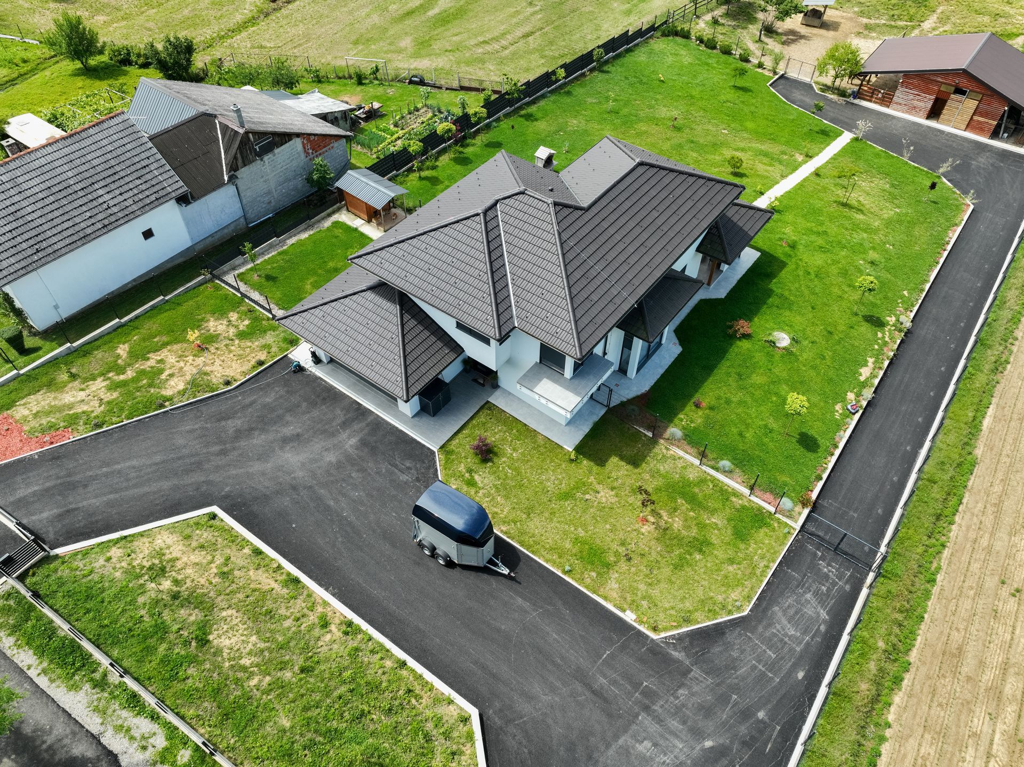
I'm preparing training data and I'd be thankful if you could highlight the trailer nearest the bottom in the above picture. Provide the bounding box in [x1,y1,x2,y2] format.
[409,484,519,579]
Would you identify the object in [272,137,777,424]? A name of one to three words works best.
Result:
house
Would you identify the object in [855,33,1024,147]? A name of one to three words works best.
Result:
barn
